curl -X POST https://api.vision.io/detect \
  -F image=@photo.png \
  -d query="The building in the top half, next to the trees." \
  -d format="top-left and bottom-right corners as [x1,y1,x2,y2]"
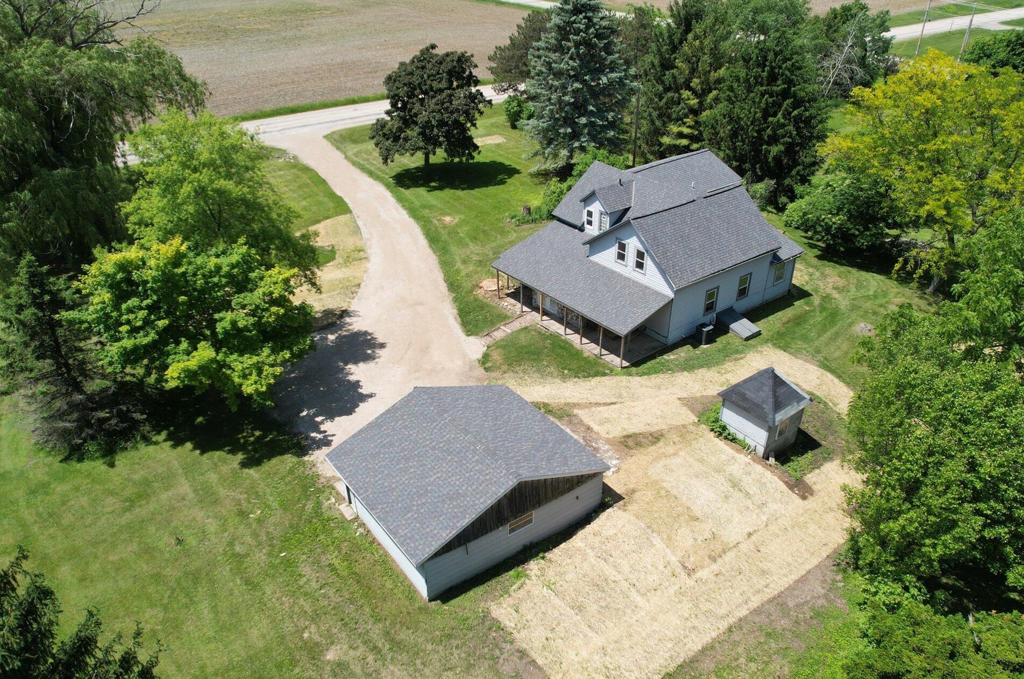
[492,147,805,371]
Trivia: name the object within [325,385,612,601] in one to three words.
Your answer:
building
